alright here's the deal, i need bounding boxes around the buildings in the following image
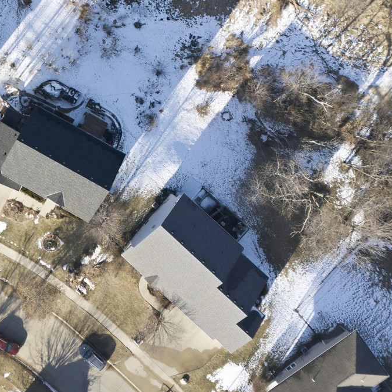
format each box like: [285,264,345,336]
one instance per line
[121,193,269,354]
[262,327,390,392]
[0,105,126,222]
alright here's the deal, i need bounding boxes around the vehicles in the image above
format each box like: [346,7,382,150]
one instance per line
[75,343,111,376]
[0,335,22,359]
